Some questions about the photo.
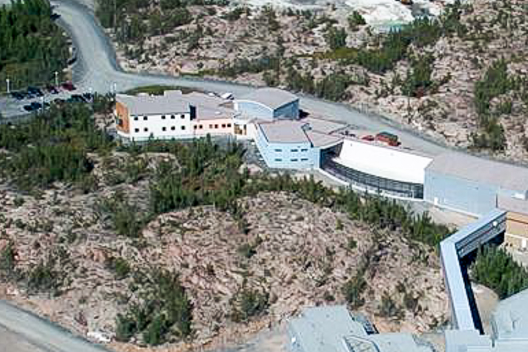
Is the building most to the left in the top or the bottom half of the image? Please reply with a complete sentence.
You can find the building most to the left in the top half.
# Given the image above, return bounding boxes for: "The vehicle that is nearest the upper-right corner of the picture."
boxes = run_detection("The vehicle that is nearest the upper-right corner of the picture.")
[375,130,400,146]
